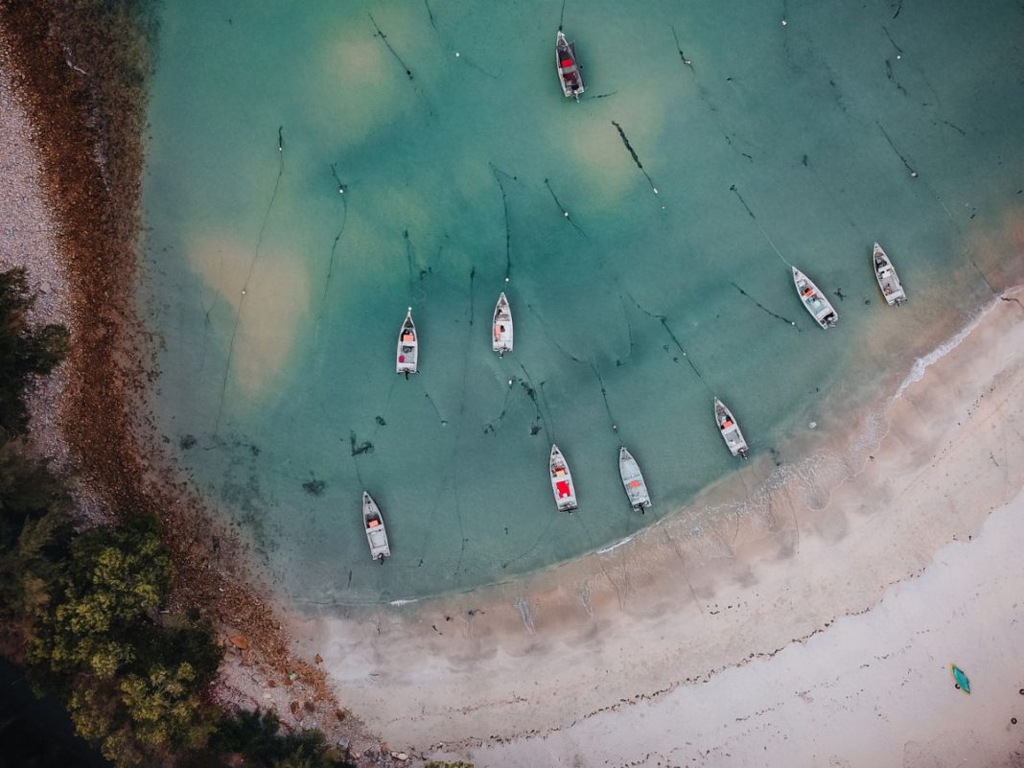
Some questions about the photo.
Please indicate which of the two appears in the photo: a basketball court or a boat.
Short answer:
boat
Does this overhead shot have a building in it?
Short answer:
No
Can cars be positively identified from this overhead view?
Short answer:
No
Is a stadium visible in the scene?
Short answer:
No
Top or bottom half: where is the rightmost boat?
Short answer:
bottom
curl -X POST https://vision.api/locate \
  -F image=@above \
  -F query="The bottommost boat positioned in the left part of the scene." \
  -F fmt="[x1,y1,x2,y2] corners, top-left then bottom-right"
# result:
[362,492,391,567]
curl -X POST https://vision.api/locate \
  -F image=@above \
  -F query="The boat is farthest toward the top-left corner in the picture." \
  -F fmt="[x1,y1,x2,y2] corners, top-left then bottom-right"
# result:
[396,309,418,385]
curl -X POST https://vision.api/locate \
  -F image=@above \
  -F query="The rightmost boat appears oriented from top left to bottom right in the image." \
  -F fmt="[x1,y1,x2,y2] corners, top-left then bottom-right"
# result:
[956,667,976,696]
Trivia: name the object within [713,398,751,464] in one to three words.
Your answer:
boat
